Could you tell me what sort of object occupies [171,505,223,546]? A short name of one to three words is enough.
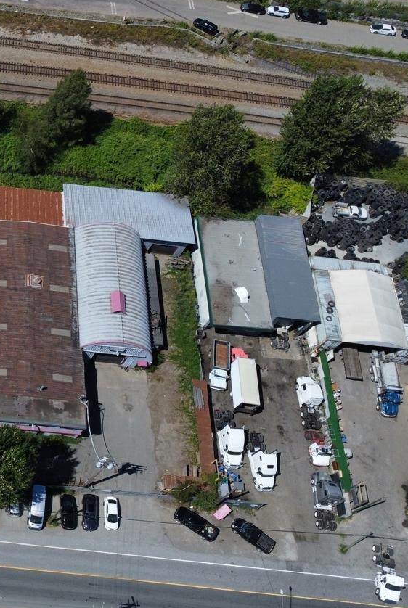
truck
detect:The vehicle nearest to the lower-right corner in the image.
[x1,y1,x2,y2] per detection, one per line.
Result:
[369,542,408,607]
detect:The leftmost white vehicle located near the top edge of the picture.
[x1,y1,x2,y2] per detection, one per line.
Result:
[265,6,291,19]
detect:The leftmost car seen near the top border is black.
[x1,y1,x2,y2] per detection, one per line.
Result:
[194,19,219,35]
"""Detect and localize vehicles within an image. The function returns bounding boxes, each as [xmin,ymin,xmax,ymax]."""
[80,493,100,533]
[369,345,405,423]
[194,19,219,35]
[171,505,223,546]
[27,481,50,533]
[295,8,328,25]
[227,516,280,559]
[207,336,232,396]
[102,496,121,534]
[265,6,291,19]
[369,542,408,607]
[368,23,397,36]
[330,205,369,222]
[308,470,343,533]
[60,493,78,531]
[7,489,25,522]
[300,429,333,471]
[212,408,248,474]
[246,432,280,495]
[294,373,328,431]
[400,29,408,40]
[240,0,265,16]
[231,346,273,420]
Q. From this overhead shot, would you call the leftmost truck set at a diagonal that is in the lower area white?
No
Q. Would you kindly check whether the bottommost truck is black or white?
white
